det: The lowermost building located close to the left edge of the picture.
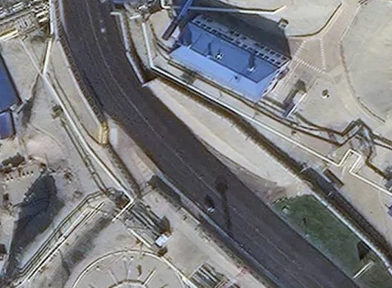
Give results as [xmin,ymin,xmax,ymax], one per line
[0,110,16,138]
